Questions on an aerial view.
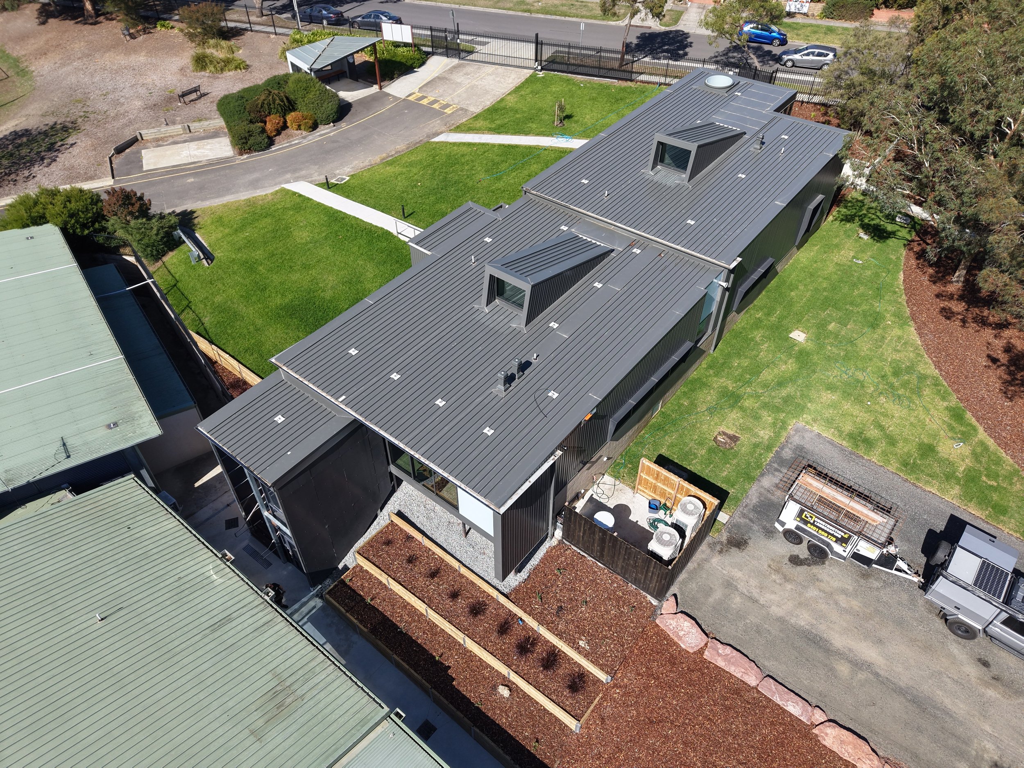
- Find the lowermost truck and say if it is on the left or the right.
right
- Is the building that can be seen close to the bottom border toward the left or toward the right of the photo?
left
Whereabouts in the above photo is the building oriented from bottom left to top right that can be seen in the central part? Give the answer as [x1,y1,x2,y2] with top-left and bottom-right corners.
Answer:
[191,65,854,589]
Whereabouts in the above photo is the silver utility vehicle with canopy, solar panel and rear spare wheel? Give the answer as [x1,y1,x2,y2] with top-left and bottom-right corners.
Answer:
[918,525,1024,669]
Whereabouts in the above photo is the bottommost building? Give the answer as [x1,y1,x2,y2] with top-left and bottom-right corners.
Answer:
[0,473,452,768]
